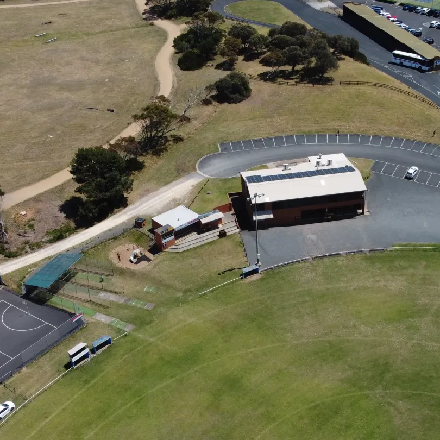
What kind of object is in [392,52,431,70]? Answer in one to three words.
vehicle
